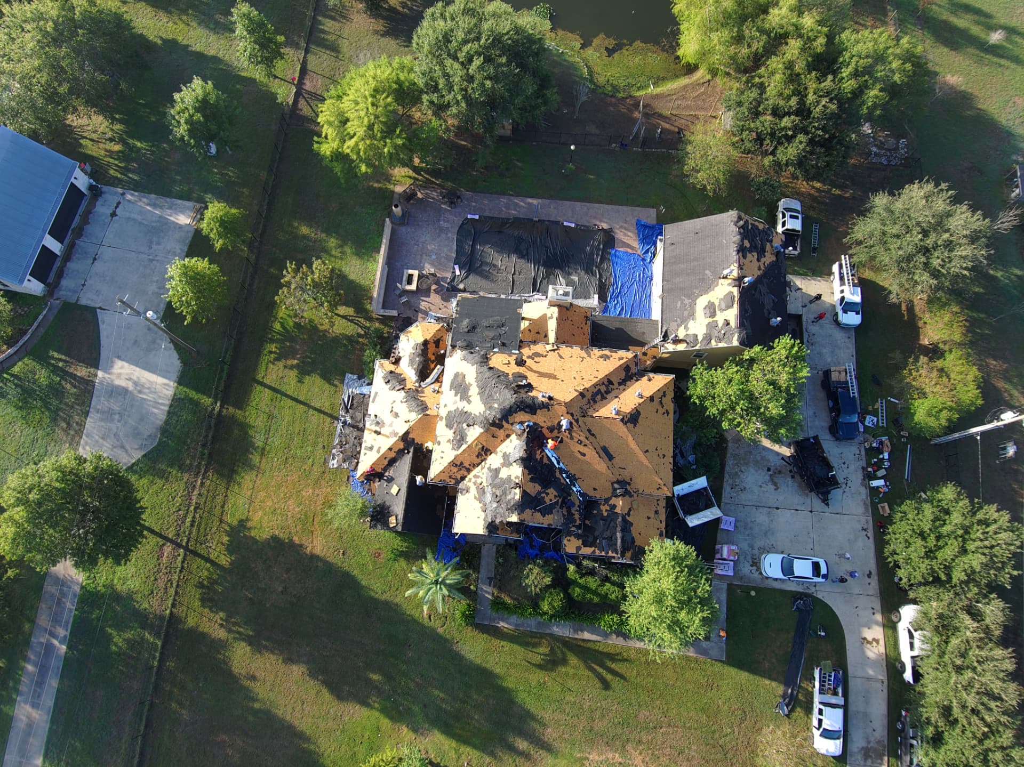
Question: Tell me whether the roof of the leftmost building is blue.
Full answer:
Yes, the roof of the leftmost building appears blue.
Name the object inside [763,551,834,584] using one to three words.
car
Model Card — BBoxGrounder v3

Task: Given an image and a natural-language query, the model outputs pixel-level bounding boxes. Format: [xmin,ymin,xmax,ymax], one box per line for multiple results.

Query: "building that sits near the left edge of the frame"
[0,137,90,299]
